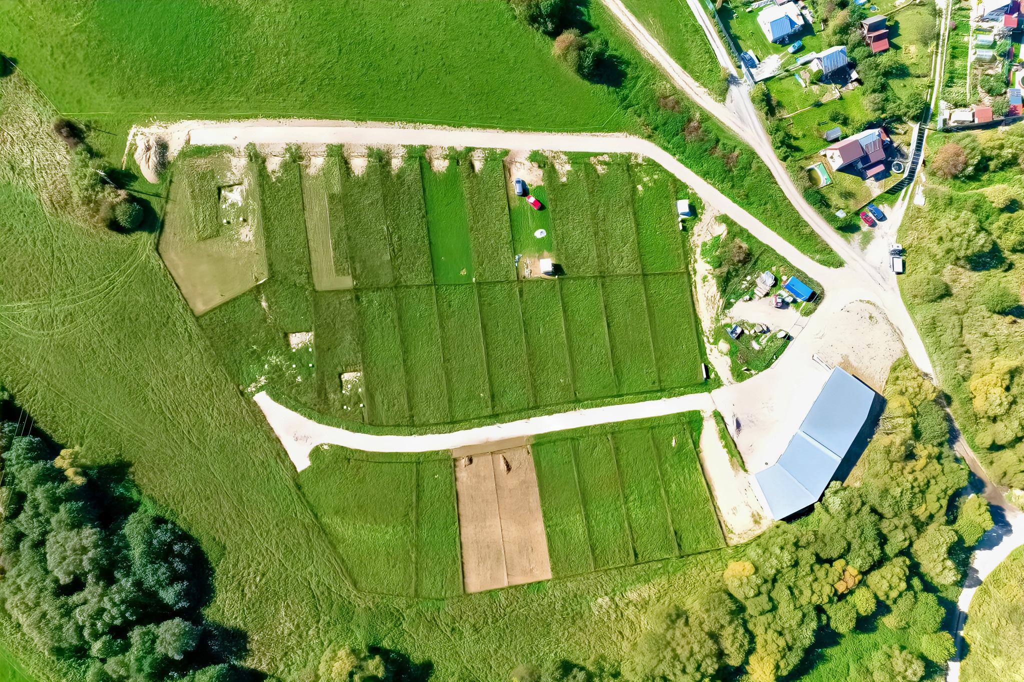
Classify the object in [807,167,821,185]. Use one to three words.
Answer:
swimming pool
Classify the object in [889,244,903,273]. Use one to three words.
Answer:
vehicle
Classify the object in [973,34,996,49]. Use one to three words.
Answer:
greenhouse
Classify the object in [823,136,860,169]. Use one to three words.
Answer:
house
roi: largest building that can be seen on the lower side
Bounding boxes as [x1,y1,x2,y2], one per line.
[749,366,875,520]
